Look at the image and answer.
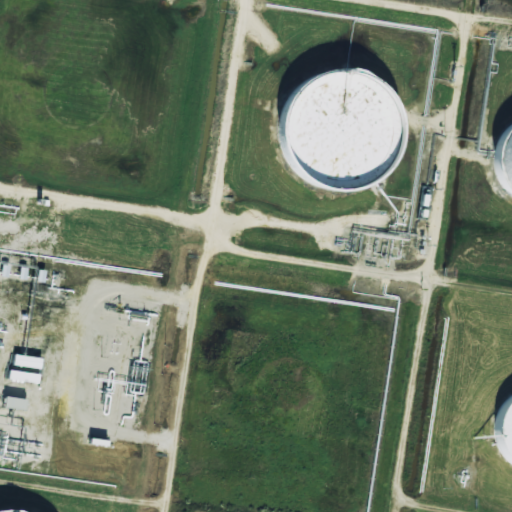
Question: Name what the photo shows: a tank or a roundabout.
tank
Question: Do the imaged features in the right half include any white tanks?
Yes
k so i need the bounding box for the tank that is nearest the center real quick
[278,69,408,193]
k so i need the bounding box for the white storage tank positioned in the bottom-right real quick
[474,394,512,468]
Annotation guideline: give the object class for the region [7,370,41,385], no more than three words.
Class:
shed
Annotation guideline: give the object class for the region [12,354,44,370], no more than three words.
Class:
shed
